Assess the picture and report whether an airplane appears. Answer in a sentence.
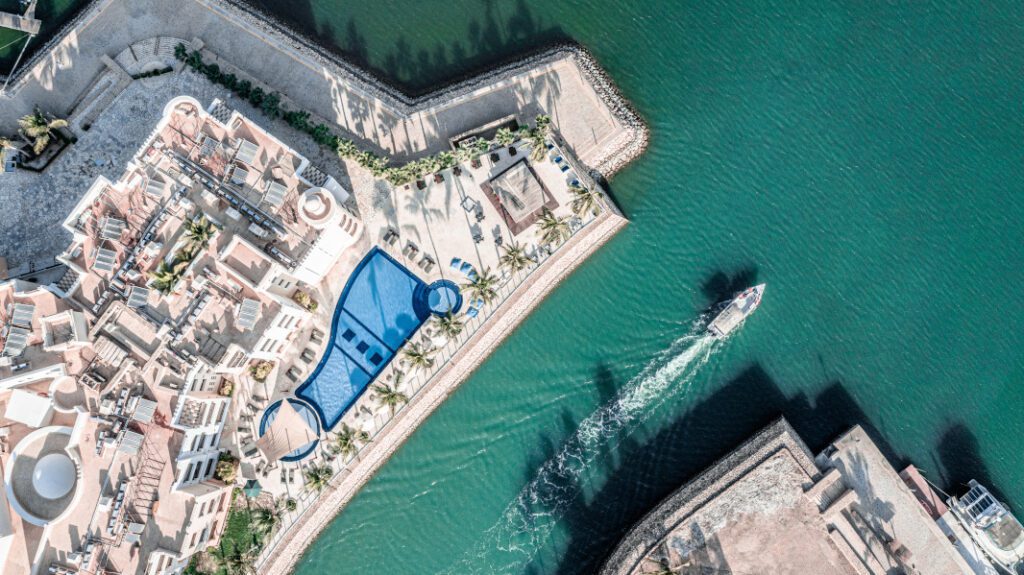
No, there is no airplane in the image.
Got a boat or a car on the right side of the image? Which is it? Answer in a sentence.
Visible on the right side of the image is a boat.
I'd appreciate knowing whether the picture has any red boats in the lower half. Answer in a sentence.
No, no red boat can be made out in the lower half.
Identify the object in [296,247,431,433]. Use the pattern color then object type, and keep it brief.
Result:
blue swimming pool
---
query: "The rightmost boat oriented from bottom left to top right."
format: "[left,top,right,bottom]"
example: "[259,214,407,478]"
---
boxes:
[708,283,766,339]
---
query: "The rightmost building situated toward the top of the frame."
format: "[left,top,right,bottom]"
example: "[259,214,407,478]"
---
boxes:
[482,157,559,236]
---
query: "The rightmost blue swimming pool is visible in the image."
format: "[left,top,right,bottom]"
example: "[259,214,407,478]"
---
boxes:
[427,280,462,315]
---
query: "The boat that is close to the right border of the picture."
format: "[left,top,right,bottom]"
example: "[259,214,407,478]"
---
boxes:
[946,475,1024,572]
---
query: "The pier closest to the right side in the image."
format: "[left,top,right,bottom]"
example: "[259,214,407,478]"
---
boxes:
[897,464,995,575]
